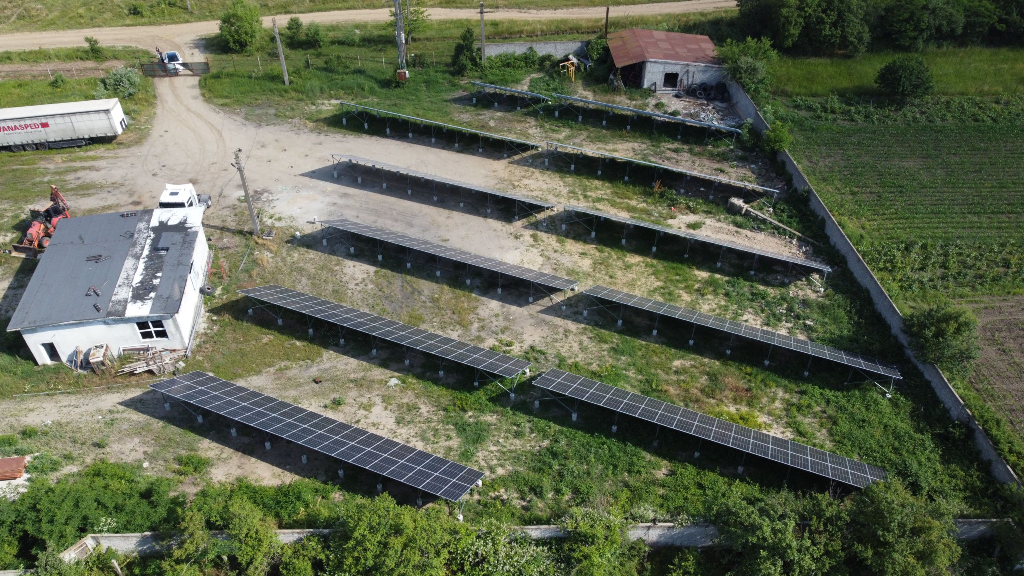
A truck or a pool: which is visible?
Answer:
truck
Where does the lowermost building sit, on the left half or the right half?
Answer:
left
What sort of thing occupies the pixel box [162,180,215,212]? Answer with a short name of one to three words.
truck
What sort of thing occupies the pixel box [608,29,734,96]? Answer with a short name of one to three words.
barn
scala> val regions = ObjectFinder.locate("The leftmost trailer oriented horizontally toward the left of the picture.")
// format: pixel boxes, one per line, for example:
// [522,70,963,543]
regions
[0,100,125,151]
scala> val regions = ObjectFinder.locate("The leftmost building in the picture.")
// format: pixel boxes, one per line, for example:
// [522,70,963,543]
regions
[6,208,208,365]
